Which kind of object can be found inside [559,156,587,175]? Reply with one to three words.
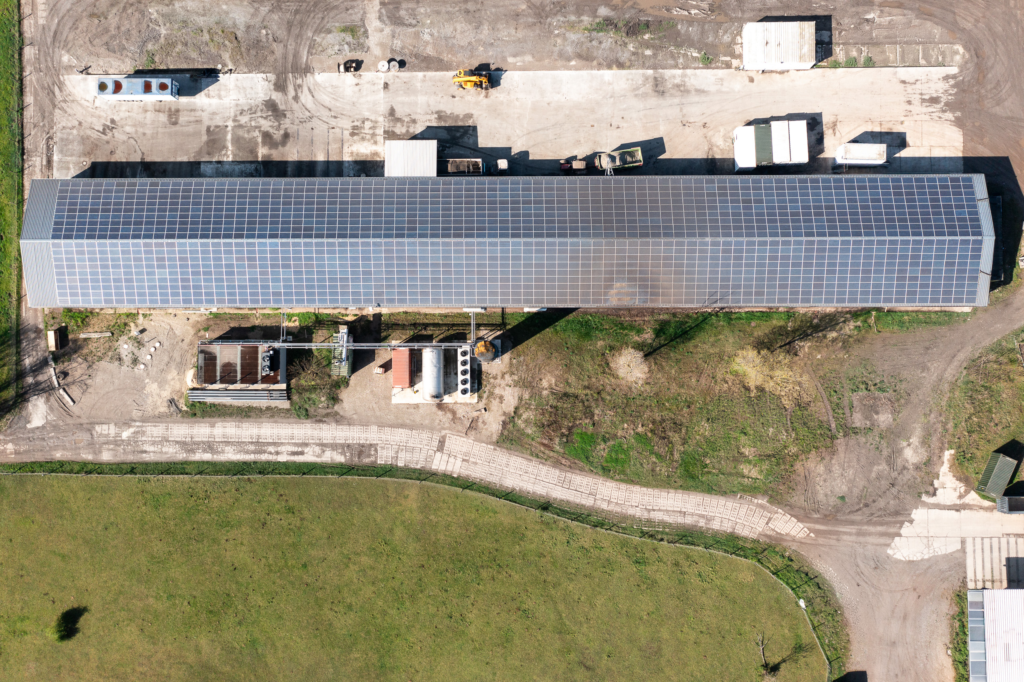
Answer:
work vehicle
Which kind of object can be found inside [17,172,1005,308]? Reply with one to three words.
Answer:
barn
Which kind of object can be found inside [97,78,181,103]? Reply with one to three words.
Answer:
trailer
